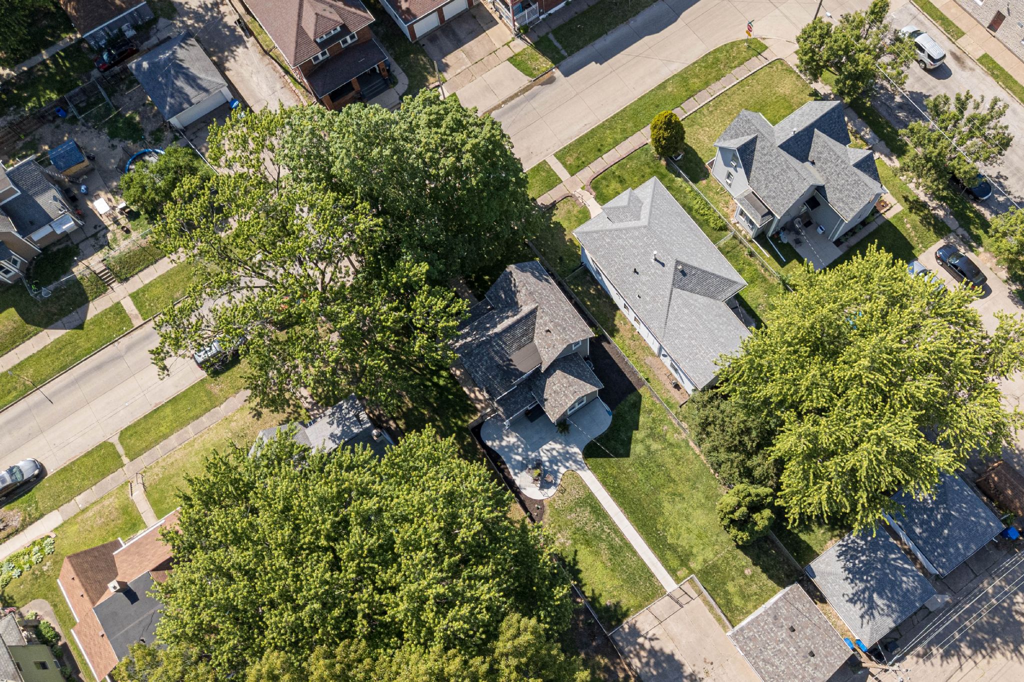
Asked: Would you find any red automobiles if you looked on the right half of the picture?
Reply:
No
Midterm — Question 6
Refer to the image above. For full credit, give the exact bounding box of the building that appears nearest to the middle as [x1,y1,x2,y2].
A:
[441,260,608,428]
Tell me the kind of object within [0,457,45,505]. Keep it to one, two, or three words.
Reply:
car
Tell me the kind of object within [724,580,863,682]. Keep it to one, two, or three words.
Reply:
building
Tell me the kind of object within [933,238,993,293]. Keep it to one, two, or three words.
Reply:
car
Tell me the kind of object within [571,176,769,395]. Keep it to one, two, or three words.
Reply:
house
